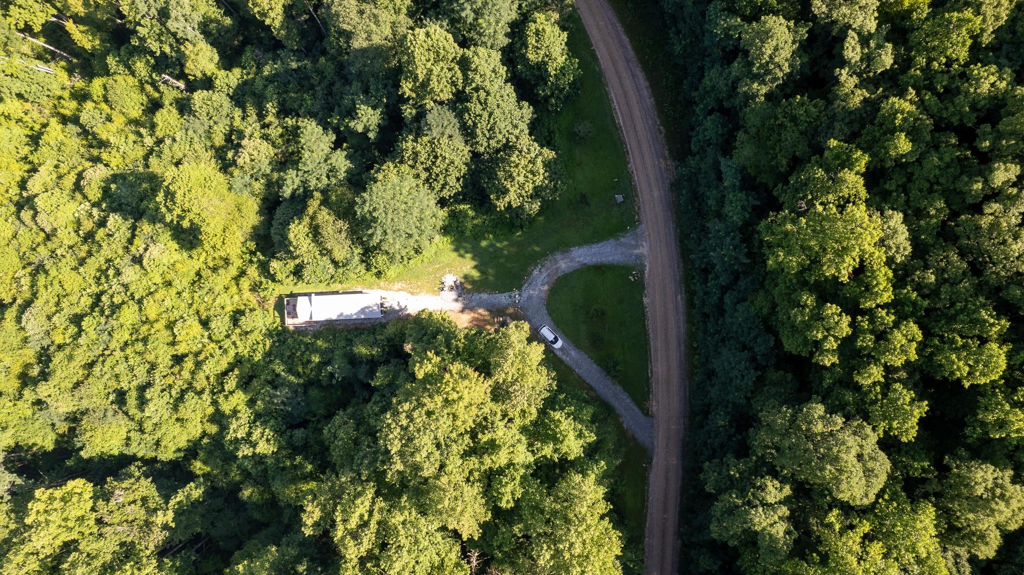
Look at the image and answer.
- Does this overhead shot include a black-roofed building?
No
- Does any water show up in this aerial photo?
No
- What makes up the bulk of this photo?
trees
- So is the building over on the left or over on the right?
left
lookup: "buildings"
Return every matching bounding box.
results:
[296,293,383,321]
